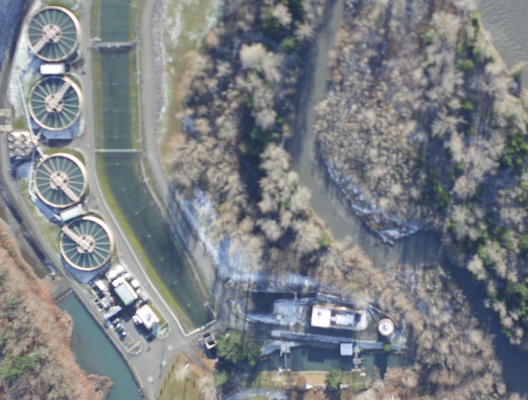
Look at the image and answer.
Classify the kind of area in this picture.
industrial area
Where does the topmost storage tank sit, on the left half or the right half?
left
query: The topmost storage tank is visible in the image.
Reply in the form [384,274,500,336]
[26,6,82,62]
